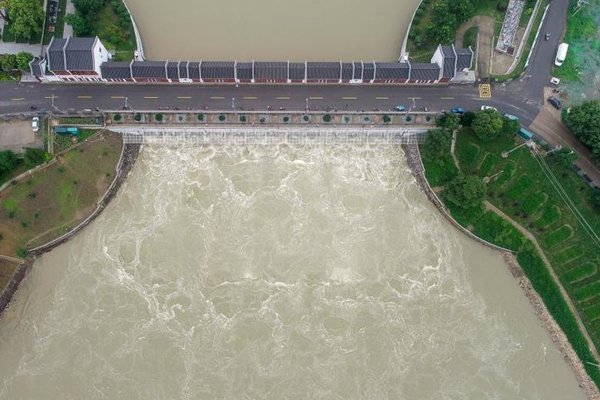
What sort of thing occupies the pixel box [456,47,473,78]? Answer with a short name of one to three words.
house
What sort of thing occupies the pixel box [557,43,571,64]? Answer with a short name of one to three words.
vehicle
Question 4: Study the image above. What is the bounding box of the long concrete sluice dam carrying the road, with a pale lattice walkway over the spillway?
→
[102,111,435,146]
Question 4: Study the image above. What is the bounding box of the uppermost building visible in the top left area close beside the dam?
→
[45,36,111,81]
